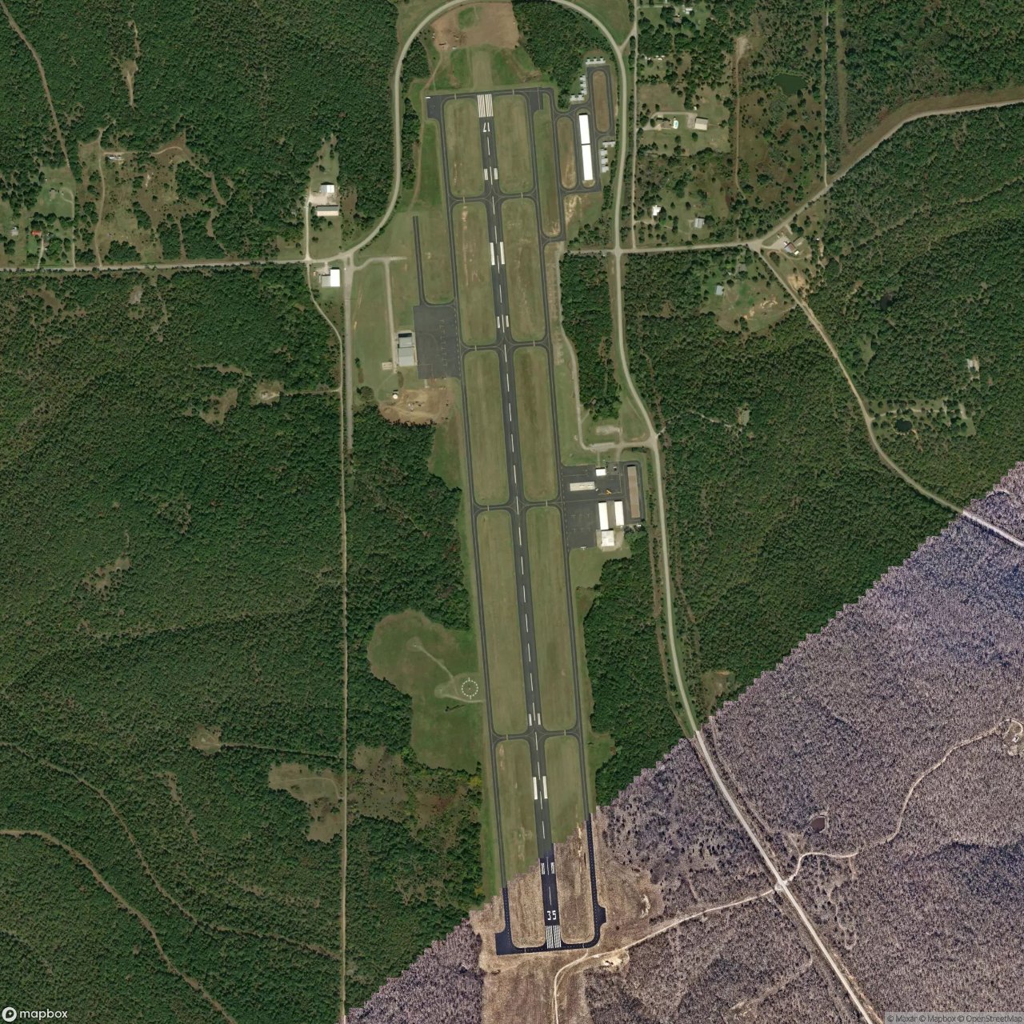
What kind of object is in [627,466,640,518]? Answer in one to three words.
hangar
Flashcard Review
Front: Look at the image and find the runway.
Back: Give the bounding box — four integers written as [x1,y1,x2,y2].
[477,91,562,949]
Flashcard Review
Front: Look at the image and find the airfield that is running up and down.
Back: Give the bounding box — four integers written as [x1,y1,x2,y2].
[382,66,646,955]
